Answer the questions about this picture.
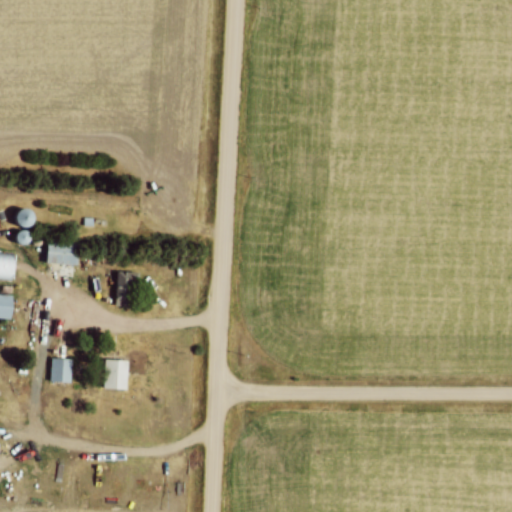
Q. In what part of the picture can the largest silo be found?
left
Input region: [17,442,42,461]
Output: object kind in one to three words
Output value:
work vehicle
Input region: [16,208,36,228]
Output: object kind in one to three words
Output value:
silo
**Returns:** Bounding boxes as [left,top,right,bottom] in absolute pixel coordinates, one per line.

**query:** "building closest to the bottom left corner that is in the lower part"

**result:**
[52,359,72,384]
